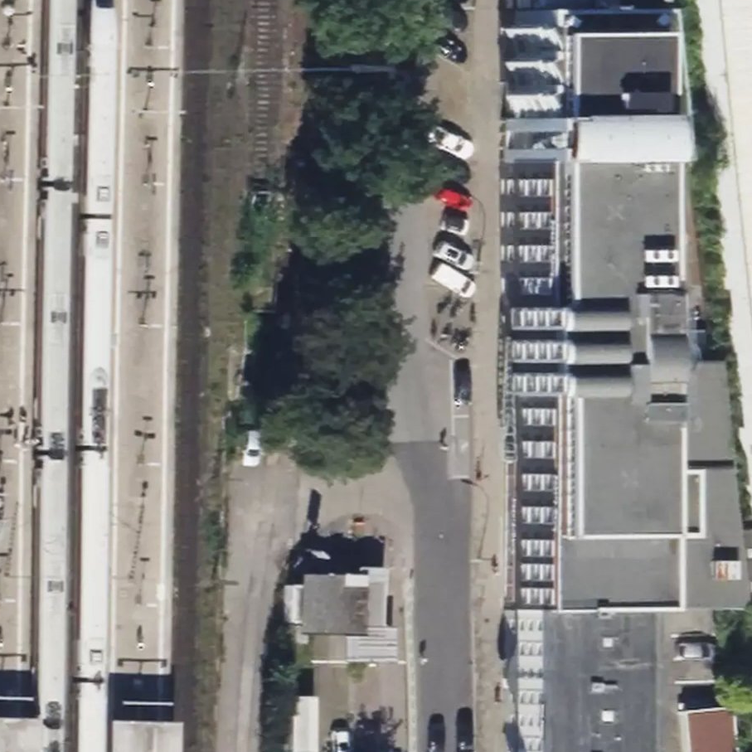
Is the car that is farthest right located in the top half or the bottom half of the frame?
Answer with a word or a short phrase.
bottom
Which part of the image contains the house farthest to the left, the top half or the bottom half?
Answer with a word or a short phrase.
bottom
